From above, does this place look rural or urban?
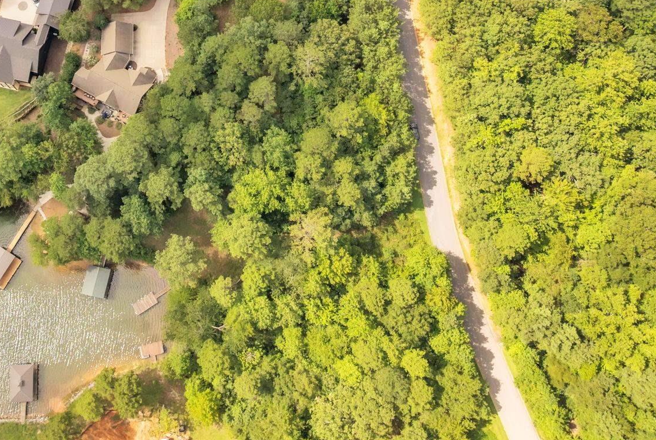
rural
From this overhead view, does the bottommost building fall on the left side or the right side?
left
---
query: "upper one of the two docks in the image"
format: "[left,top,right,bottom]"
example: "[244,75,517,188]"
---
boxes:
[132,290,165,315]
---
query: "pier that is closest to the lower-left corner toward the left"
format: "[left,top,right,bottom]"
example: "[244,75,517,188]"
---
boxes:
[139,341,164,362]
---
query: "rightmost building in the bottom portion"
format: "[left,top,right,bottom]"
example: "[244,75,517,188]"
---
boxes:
[82,261,115,299]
